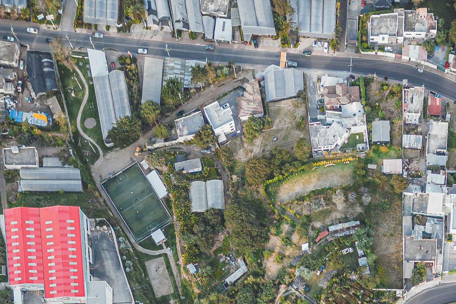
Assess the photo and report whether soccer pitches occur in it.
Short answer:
Yes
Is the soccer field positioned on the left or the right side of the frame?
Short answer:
left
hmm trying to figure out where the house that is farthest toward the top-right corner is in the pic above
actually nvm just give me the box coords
[403,8,437,41]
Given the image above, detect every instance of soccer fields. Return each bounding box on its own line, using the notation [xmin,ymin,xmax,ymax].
[99,162,170,240]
